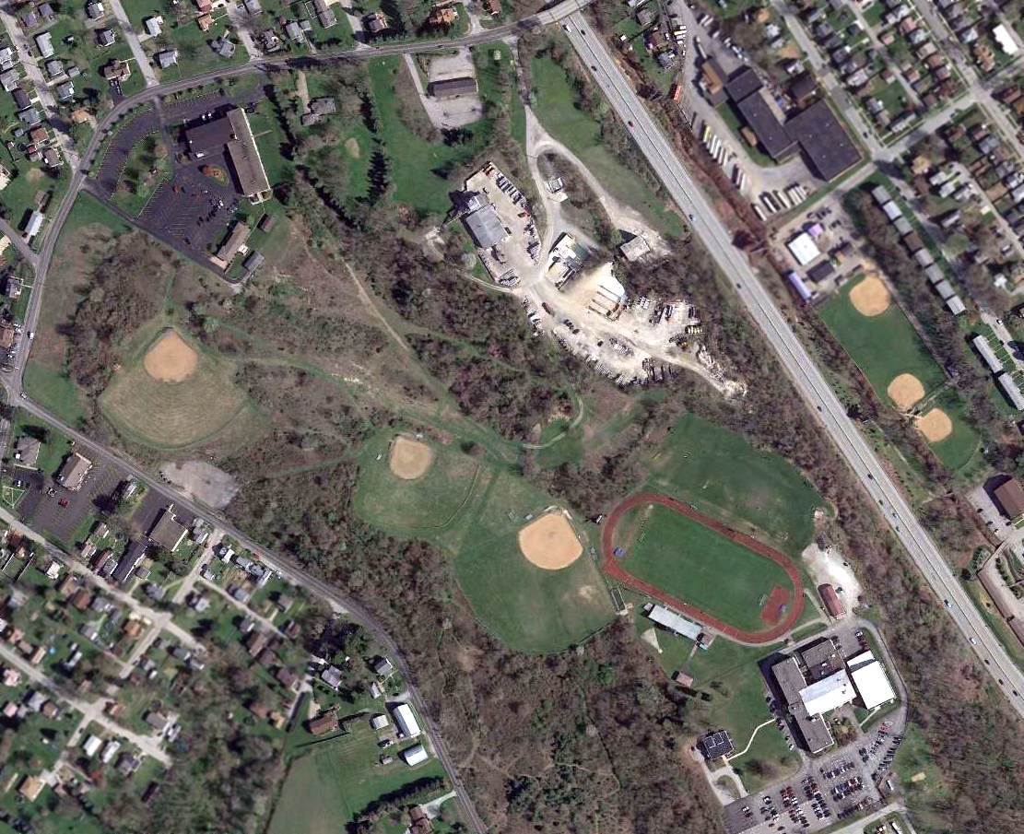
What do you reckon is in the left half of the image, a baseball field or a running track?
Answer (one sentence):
What appears in the left half of the image is a baseball field.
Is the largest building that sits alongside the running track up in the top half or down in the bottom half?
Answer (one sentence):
You can find the largest building that sits alongside the running track in the bottom half.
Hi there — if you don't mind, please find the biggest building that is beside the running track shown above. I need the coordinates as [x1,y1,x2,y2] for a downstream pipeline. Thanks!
[772,641,858,754]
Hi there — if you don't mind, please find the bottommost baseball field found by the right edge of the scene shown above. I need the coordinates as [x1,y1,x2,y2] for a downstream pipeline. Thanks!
[912,404,981,469]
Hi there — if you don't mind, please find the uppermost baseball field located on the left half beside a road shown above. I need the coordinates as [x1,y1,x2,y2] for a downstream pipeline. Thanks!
[103,318,250,452]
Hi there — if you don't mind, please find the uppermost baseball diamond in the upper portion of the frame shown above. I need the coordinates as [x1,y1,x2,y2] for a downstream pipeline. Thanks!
[818,268,922,369]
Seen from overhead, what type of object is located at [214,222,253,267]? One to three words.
house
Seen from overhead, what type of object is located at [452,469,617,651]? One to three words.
baseball field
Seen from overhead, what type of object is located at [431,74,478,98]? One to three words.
building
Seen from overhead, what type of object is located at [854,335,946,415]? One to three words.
baseball field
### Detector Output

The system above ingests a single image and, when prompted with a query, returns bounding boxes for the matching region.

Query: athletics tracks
[601,493,805,644]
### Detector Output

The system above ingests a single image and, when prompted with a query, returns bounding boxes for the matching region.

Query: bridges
[531,0,589,31]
